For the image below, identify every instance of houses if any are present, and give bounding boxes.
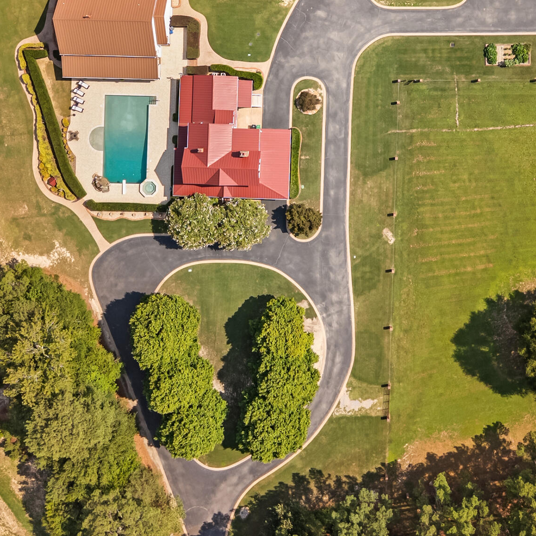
[53,0,174,80]
[173,75,291,200]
